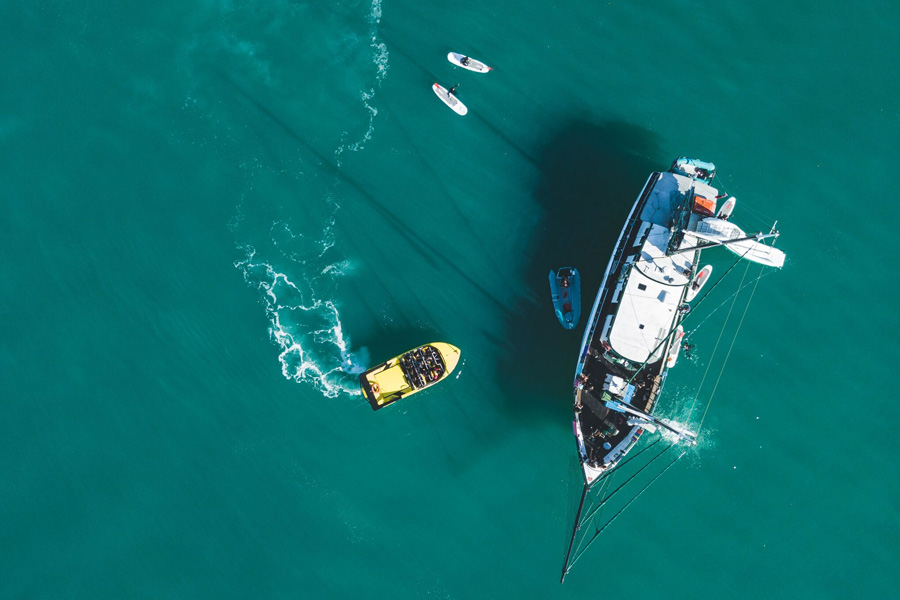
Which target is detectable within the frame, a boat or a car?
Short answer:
boat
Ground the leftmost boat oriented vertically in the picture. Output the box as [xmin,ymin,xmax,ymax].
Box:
[549,264,581,330]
